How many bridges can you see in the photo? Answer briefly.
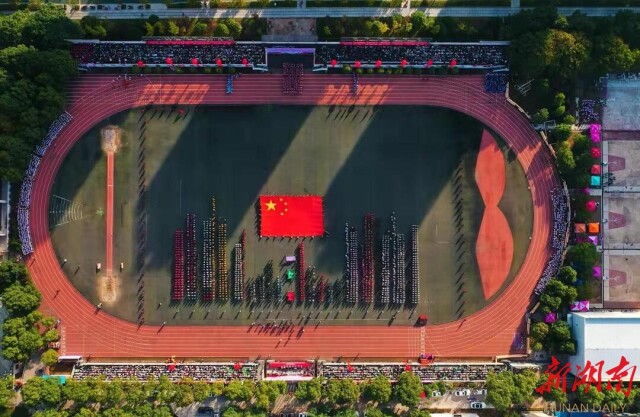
none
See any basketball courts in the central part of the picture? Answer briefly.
No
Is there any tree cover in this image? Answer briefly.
Yes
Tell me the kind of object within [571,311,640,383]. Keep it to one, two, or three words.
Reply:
building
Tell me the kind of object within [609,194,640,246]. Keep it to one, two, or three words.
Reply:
basketball court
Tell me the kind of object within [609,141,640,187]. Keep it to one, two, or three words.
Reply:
basketball court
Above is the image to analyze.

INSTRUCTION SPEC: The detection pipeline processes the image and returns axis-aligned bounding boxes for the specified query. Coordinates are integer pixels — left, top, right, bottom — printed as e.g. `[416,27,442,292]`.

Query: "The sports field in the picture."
[50,104,531,324]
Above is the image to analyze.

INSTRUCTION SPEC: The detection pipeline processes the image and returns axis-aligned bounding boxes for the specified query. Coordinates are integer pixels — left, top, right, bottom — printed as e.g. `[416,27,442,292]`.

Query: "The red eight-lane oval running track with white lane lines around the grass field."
[16,71,564,358]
